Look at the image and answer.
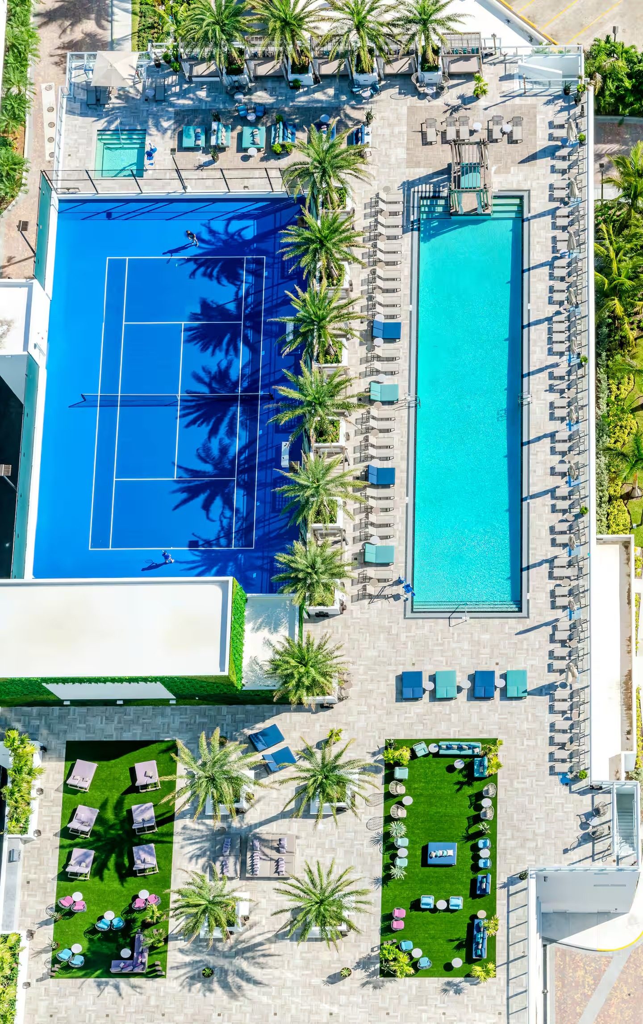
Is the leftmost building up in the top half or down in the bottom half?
top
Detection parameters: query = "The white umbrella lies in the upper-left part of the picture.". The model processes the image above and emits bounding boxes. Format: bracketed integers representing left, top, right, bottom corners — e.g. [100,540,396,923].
[91,51,139,96]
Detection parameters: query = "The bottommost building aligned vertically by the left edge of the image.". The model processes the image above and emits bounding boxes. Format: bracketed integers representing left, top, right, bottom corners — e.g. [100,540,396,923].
[0,279,50,397]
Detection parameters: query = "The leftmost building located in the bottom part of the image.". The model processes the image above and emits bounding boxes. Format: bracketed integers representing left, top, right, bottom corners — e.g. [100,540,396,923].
[0,577,250,711]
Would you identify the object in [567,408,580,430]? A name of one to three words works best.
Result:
umbrella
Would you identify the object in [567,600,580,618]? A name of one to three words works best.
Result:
umbrella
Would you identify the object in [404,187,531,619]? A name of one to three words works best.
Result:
swimming pool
